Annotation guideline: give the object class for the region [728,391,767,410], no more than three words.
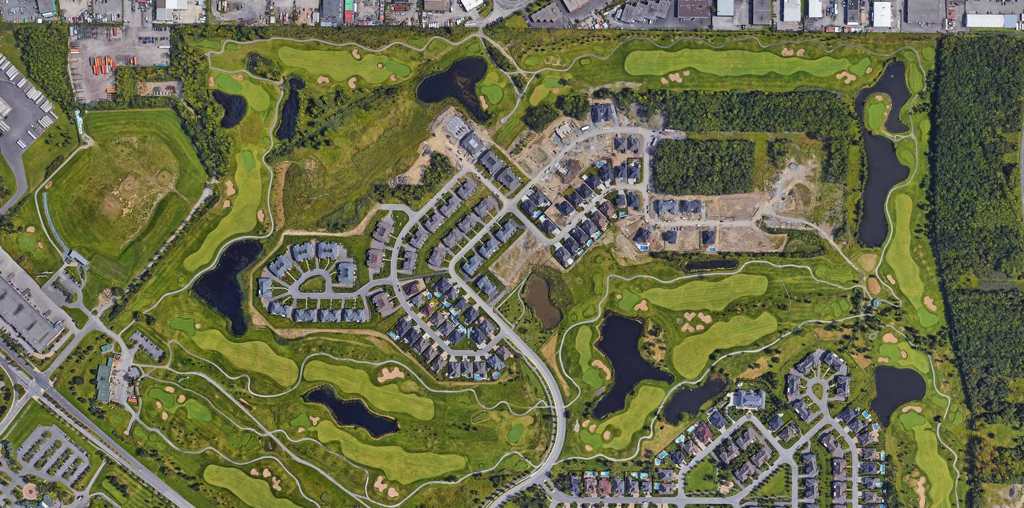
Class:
house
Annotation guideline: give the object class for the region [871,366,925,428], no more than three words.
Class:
pond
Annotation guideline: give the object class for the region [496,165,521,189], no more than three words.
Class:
building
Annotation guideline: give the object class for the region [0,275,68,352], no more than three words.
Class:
building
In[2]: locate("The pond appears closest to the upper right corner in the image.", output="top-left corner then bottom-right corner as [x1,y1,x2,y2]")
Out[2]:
[854,61,911,247]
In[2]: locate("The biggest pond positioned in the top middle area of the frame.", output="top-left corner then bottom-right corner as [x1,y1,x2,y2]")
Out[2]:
[418,56,490,120]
